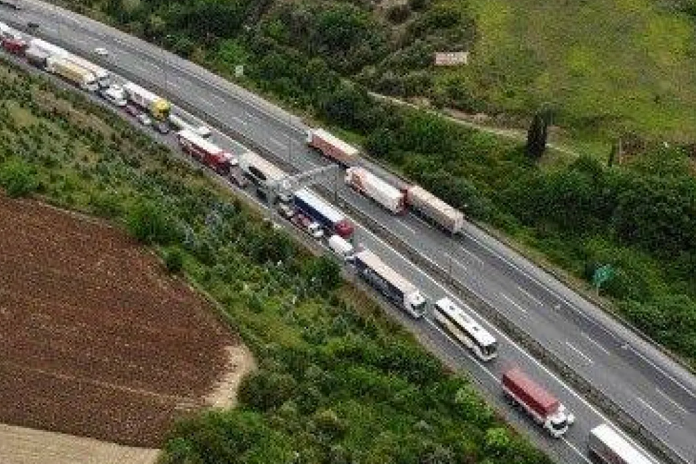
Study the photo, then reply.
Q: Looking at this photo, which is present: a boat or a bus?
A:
bus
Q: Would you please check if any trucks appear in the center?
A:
Yes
